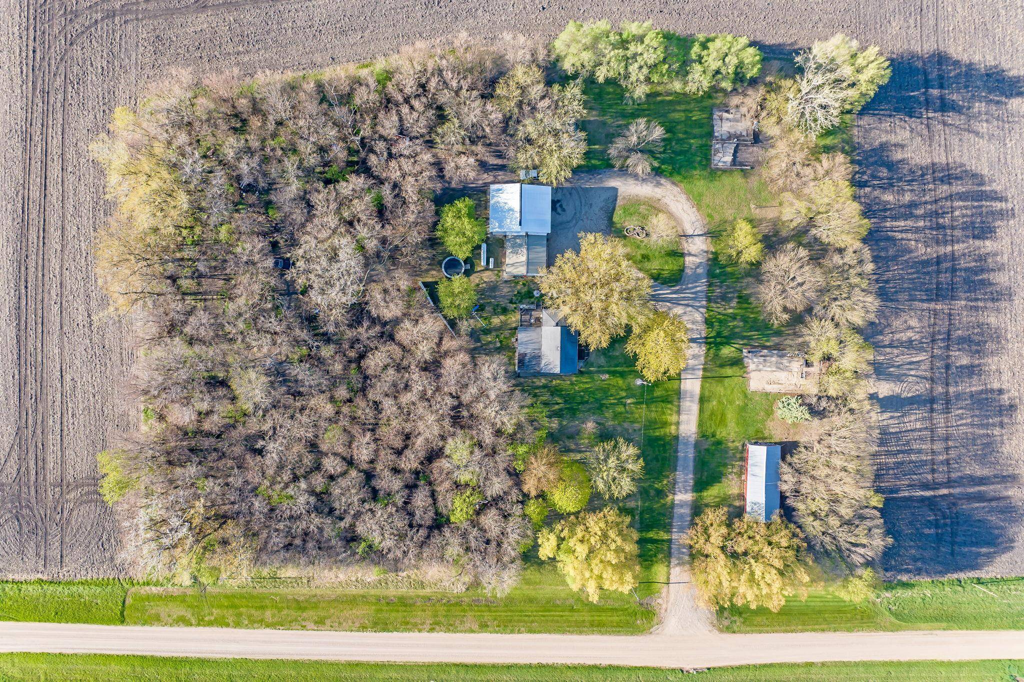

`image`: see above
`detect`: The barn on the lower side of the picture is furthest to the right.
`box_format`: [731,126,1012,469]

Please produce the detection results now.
[744,442,781,523]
